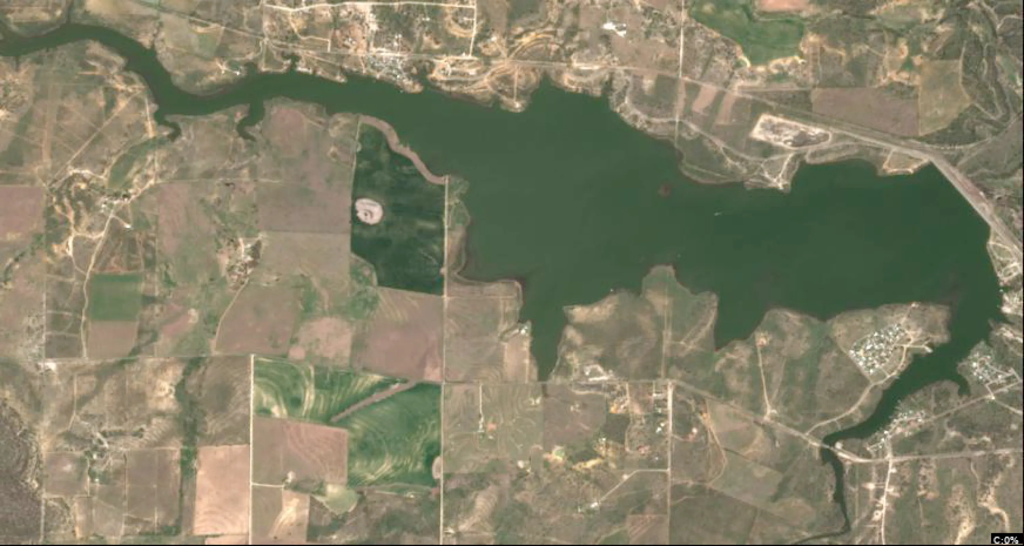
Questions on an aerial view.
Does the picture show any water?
Yes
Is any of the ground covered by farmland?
Yes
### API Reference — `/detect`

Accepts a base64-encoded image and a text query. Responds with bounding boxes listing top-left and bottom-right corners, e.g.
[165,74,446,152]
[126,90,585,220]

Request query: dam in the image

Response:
[926,148,1024,257]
